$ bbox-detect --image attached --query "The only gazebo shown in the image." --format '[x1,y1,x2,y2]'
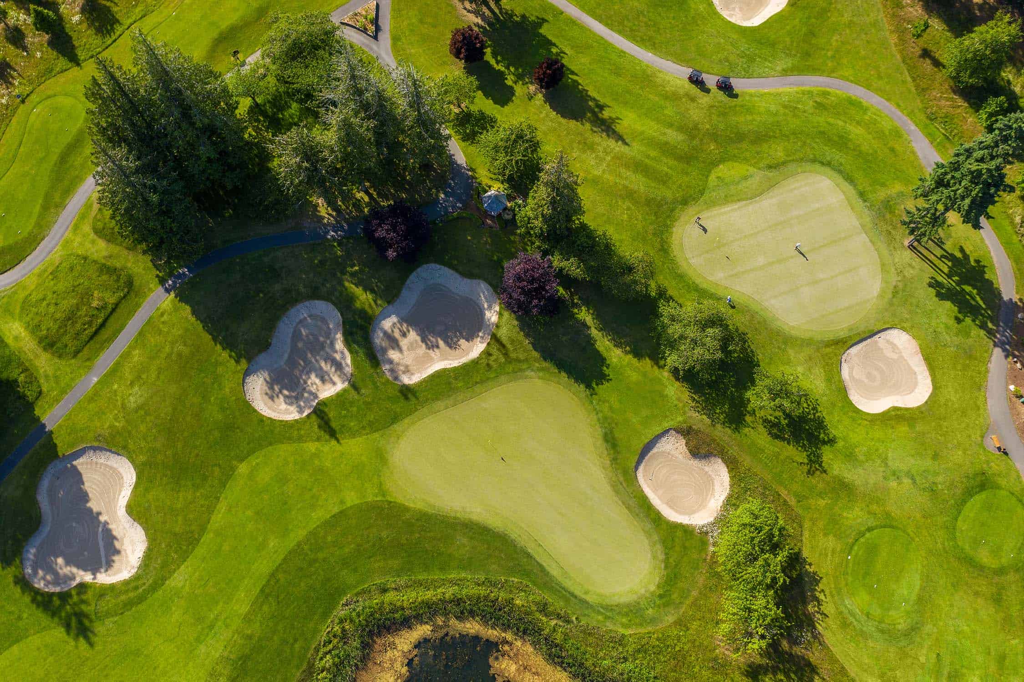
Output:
[481,192,507,221]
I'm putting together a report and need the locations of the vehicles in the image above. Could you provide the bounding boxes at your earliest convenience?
[687,69,705,86]
[716,75,734,91]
